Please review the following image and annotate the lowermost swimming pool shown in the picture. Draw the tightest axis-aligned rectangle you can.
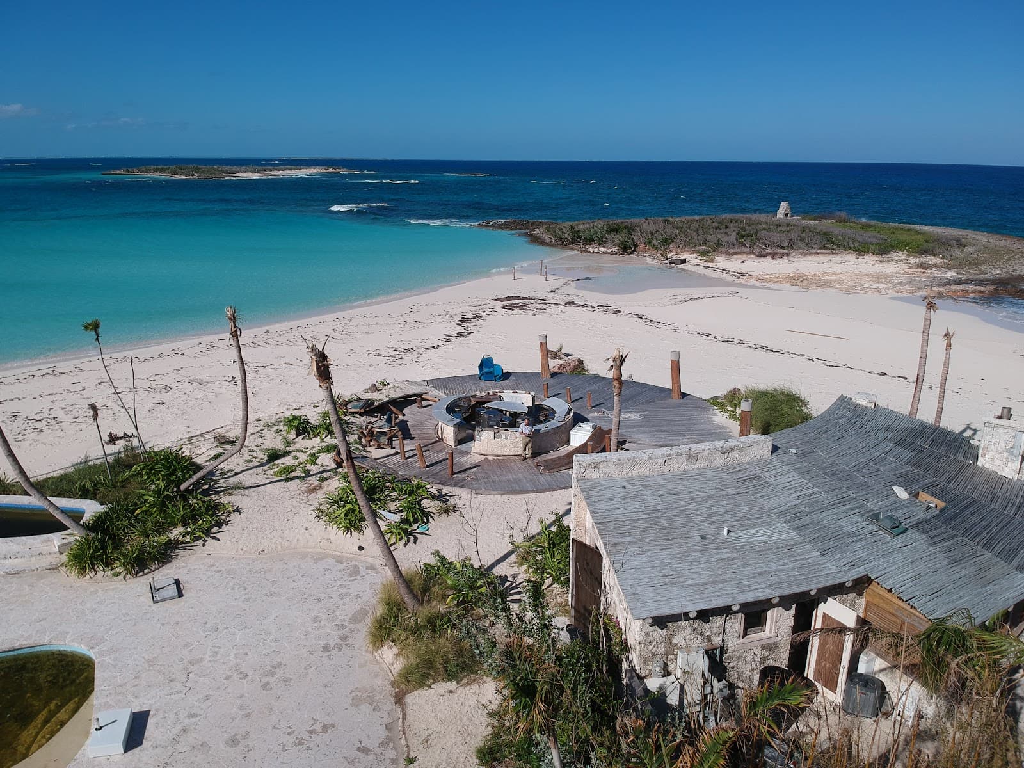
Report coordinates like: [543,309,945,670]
[0,646,96,768]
